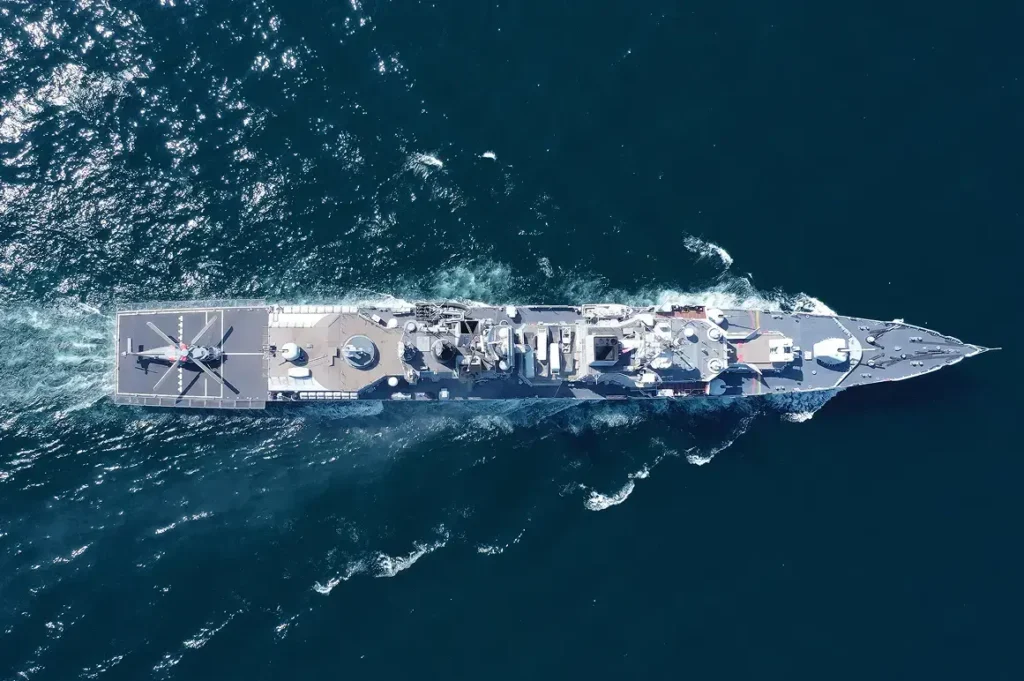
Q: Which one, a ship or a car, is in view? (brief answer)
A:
ship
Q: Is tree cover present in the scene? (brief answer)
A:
No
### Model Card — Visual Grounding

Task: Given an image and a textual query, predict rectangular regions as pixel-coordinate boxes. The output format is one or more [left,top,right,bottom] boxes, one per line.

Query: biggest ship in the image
[115,299,1002,410]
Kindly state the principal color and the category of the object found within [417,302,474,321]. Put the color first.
gray boat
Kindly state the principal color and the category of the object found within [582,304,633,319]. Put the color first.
white boat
